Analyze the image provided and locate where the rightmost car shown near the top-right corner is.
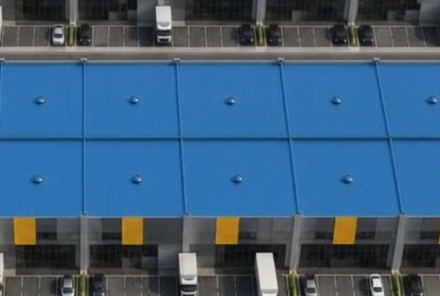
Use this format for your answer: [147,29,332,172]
[360,24,373,46]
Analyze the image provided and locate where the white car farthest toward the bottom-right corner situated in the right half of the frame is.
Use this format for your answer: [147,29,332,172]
[370,276,385,296]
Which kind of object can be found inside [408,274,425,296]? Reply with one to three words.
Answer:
car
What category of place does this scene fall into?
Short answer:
industrial area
